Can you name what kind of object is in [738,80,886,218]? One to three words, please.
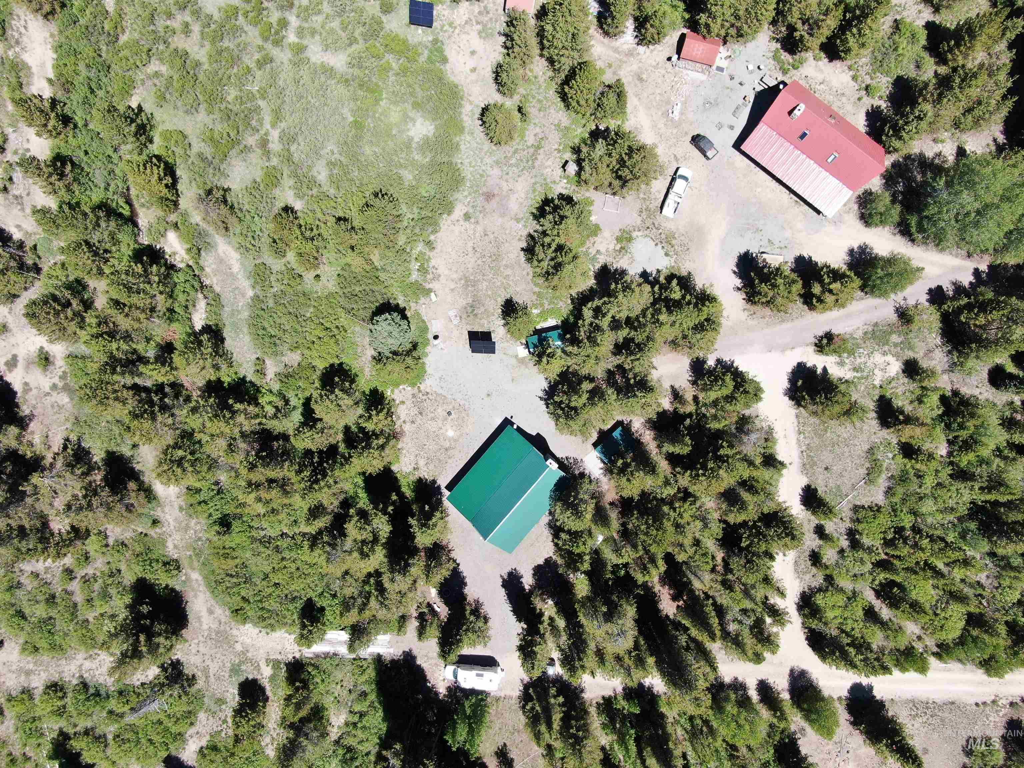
building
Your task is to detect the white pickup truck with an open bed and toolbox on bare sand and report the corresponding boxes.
[659,165,693,221]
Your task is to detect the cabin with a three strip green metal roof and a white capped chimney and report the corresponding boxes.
[447,424,566,554]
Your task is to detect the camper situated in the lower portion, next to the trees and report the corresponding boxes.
[446,664,503,696]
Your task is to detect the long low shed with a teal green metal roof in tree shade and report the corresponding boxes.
[527,330,564,351]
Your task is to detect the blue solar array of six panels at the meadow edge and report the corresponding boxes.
[410,0,434,26]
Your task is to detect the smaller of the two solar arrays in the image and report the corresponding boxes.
[471,340,496,354]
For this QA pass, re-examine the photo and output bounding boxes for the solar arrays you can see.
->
[410,0,434,26]
[471,340,496,354]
